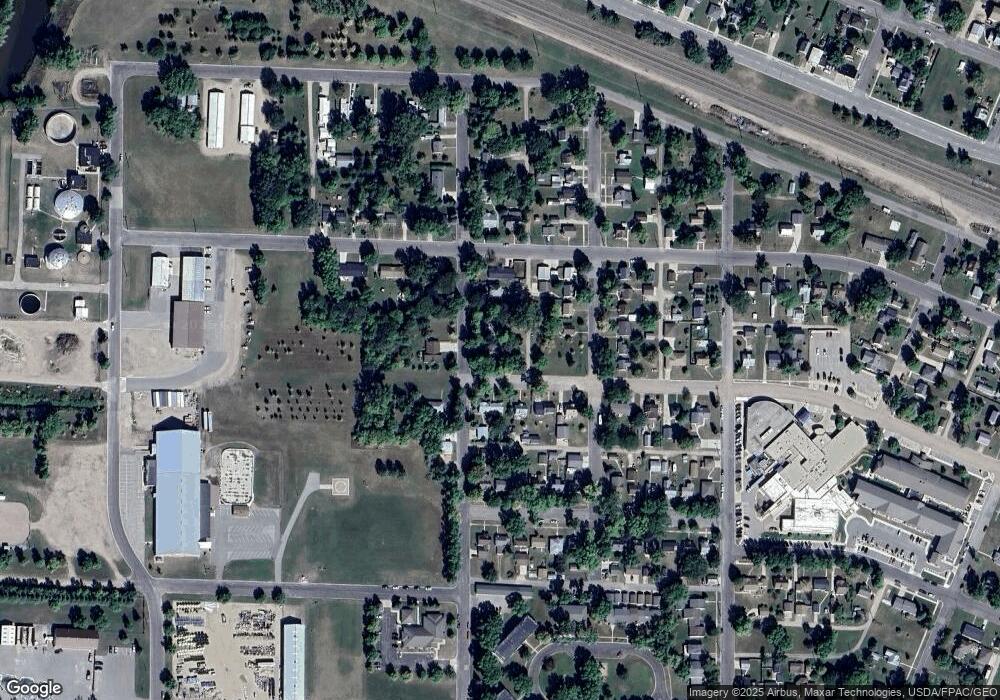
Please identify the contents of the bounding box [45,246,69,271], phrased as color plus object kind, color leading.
white water tank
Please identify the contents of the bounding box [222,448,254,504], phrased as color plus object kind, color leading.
white sports court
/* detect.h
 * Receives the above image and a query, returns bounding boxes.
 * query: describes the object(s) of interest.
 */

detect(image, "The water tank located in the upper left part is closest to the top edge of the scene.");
[45,111,75,142]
